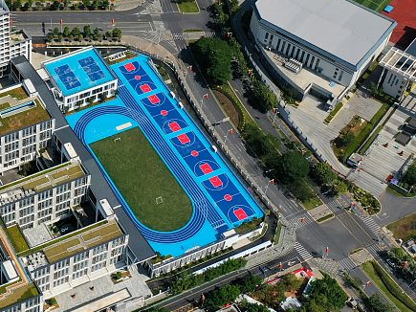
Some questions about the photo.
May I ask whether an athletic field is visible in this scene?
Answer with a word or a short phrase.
Yes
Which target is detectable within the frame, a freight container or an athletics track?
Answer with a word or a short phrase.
athletics track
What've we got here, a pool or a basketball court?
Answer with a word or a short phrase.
basketball court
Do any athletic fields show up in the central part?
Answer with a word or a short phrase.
Yes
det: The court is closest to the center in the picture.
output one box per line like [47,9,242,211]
[170,130,222,175]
